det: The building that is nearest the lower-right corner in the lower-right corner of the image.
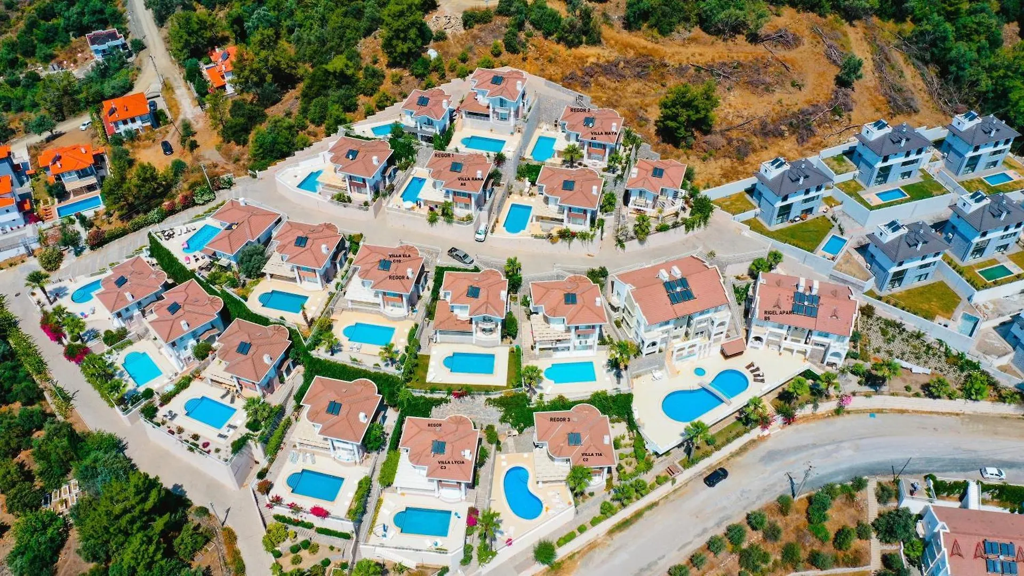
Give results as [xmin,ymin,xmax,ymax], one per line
[904,504,1024,576]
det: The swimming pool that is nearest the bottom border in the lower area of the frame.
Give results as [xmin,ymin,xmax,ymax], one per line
[393,506,454,539]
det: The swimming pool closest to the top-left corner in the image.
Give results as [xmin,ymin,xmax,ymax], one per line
[55,195,104,219]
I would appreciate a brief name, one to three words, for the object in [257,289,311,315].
swimming pool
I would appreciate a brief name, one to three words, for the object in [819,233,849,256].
swimming pool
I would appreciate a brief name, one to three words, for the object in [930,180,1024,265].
house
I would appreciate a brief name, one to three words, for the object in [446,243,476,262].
vehicle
